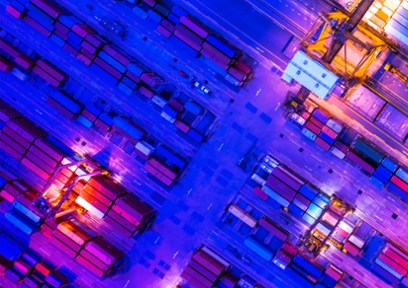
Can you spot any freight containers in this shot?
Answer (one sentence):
Yes, there's a freight container here.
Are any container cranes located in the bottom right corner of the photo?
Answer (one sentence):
Yes, a container crane can be seen in the bottom right corner of the photo.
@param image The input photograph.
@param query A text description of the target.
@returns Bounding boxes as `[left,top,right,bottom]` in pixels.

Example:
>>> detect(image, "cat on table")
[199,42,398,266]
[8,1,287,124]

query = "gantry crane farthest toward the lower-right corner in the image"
[299,190,356,258]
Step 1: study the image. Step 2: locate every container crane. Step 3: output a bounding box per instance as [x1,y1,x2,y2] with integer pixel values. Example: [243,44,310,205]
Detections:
[22,157,108,225]
[278,0,389,116]
[299,190,356,258]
